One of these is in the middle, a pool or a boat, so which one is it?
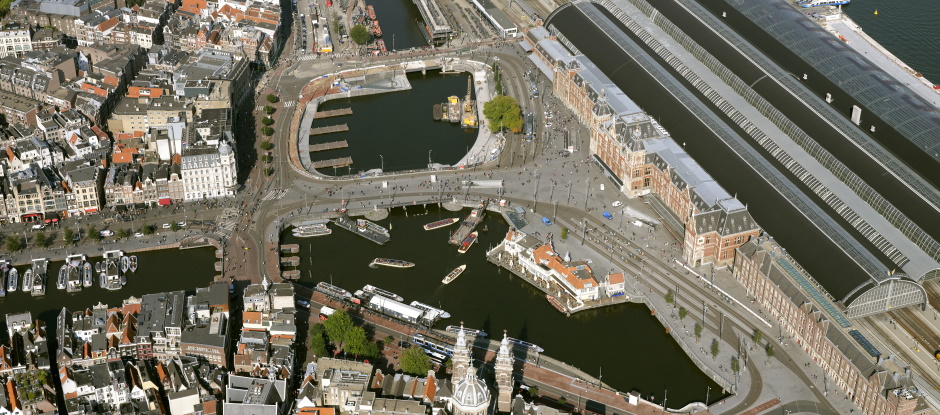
boat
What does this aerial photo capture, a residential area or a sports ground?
residential area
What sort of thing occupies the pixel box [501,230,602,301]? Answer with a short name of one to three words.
building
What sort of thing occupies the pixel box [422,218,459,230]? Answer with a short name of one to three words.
boat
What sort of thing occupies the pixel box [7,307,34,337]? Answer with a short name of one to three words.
house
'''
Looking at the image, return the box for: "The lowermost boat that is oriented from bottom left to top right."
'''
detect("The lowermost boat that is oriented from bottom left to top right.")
[441,264,466,283]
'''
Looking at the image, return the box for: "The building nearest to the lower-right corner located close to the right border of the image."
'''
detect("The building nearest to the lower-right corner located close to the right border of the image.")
[735,241,940,415]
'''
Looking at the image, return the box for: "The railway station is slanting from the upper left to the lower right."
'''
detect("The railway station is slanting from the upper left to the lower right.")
[497,15,761,267]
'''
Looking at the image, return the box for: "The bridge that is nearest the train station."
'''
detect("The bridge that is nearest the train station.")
[386,45,456,77]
